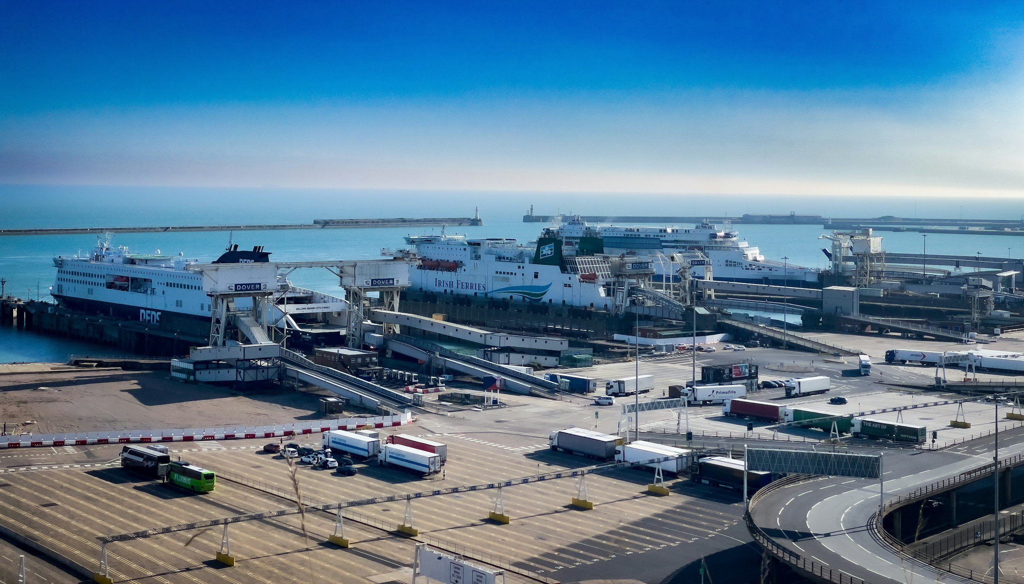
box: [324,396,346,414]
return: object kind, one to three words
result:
building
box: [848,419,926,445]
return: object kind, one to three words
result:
truck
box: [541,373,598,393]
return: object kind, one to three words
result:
vehicle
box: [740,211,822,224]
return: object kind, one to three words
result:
shed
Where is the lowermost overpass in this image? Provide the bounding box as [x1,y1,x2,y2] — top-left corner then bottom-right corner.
[609,422,1024,584]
